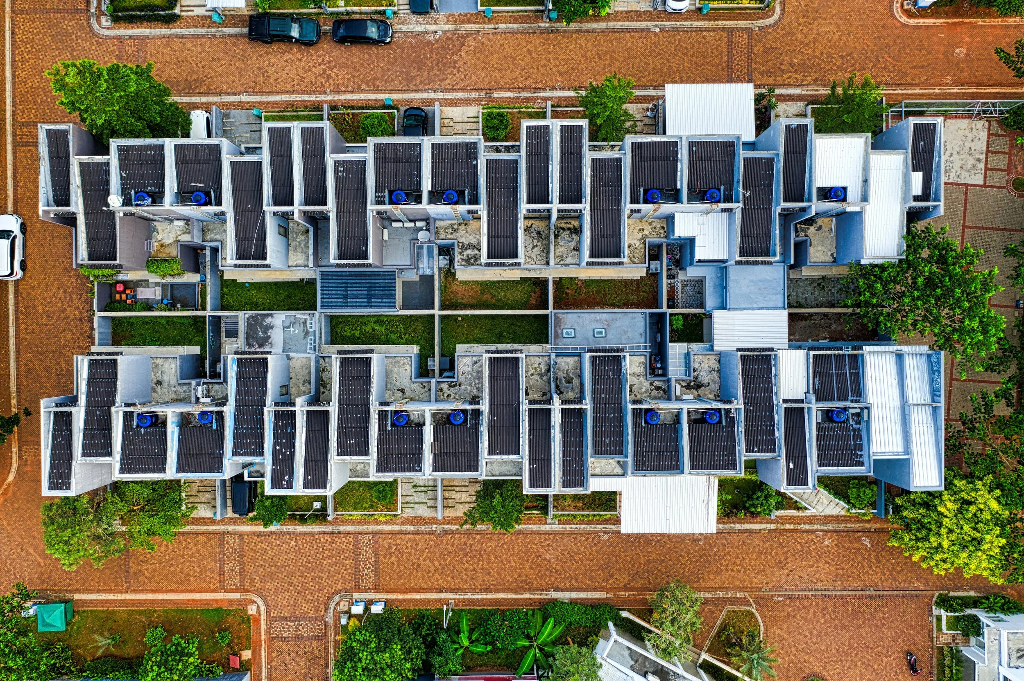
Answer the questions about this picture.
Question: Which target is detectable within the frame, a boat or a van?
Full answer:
This aerial view contains a van.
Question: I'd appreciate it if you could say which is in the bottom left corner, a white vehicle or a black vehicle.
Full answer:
You can see a black vehicle in the bottom left corner.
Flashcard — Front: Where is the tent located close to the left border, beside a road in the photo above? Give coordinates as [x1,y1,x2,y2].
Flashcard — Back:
[37,592,85,631]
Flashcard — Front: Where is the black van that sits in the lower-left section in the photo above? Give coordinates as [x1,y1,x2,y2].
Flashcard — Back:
[224,472,253,523]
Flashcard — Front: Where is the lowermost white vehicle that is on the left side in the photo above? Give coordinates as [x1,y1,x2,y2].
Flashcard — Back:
[0,216,30,278]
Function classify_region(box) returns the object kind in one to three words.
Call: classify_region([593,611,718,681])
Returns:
house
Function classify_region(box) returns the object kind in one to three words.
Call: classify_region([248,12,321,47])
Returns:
truck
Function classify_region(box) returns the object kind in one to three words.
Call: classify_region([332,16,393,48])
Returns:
car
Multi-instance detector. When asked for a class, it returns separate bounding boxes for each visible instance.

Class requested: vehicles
[654,0,659,15]
[905,650,924,675]
[400,109,427,136]
[183,105,212,138]
[665,0,690,13]
[248,12,321,47]
[224,472,253,523]
[0,216,30,278]
[332,16,393,48]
